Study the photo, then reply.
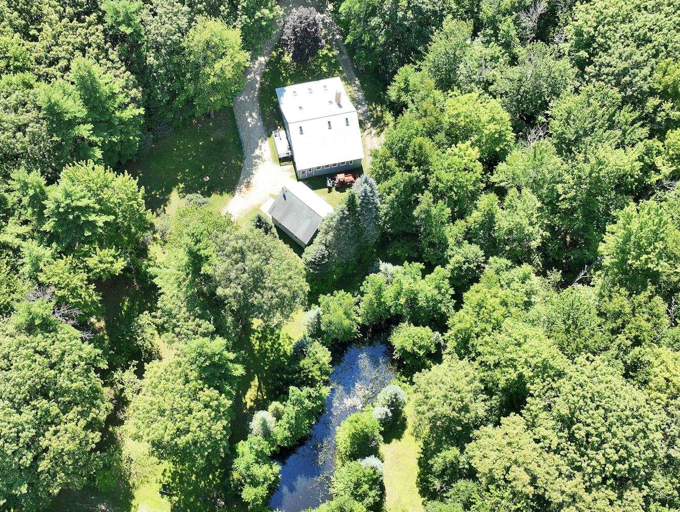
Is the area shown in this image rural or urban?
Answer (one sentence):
It looks rural.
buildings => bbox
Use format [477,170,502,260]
[268,183,335,247]
[275,76,365,179]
